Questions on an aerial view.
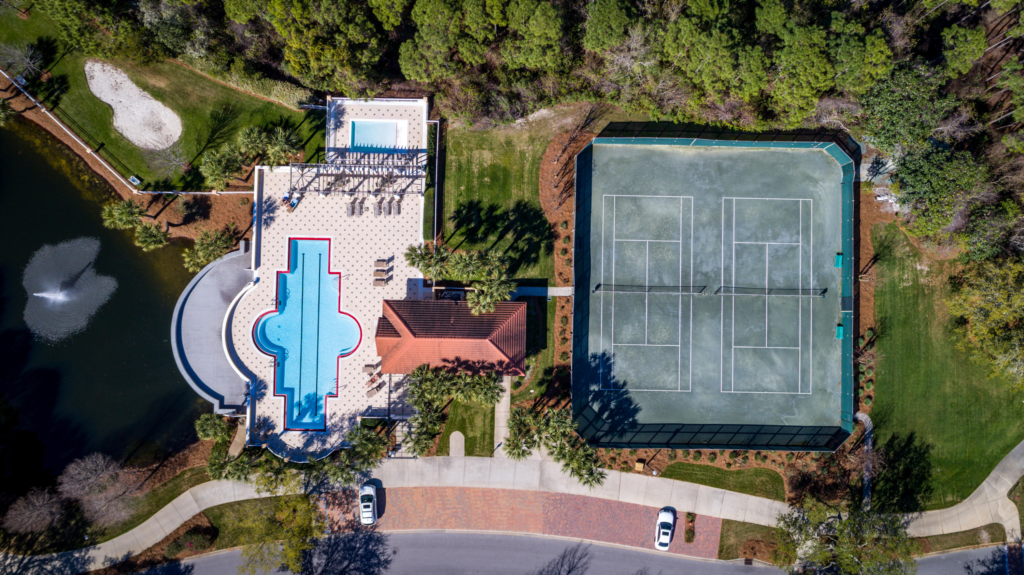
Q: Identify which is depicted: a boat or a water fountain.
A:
water fountain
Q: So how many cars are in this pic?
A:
2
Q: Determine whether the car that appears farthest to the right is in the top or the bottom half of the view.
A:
bottom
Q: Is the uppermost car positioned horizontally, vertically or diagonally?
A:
vertically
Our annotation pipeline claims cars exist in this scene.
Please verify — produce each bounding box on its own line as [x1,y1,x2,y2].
[358,484,378,527]
[654,508,675,552]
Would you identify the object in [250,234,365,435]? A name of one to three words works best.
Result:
swimming pool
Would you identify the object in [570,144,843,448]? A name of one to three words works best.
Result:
tennis court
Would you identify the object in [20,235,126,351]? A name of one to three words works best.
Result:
fountain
